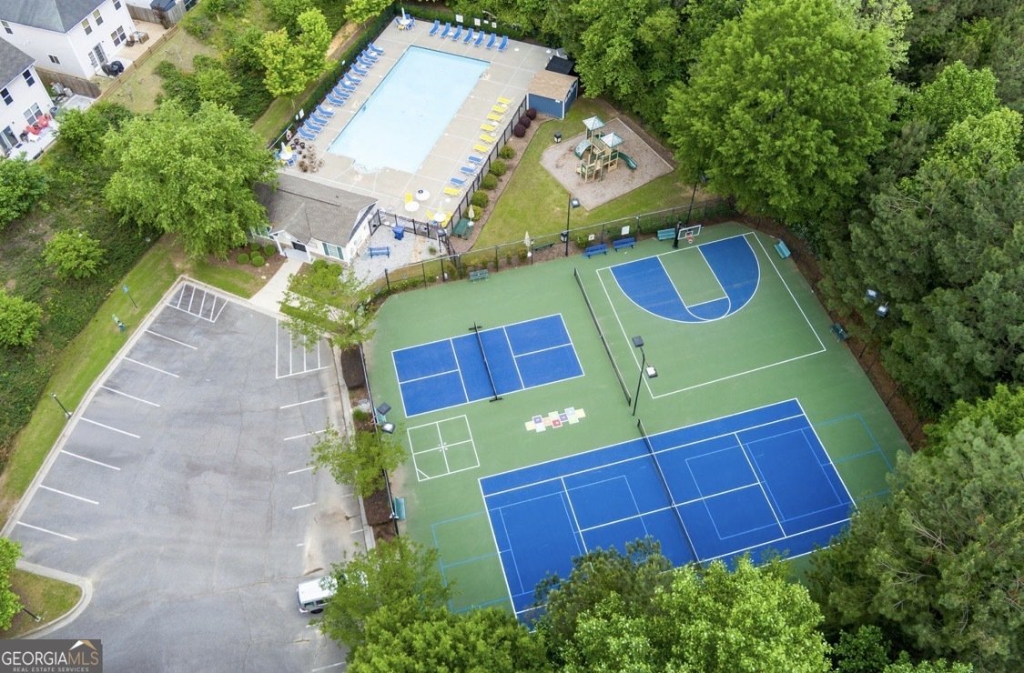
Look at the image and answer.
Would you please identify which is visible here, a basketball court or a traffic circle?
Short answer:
basketball court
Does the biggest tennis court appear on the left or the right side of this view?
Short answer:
right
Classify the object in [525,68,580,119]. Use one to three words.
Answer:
shed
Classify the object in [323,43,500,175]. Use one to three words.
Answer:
swimming pool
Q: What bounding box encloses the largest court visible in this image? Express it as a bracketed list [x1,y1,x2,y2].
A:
[478,398,870,631]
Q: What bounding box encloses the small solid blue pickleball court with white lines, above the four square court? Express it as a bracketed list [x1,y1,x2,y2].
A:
[392,314,584,417]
